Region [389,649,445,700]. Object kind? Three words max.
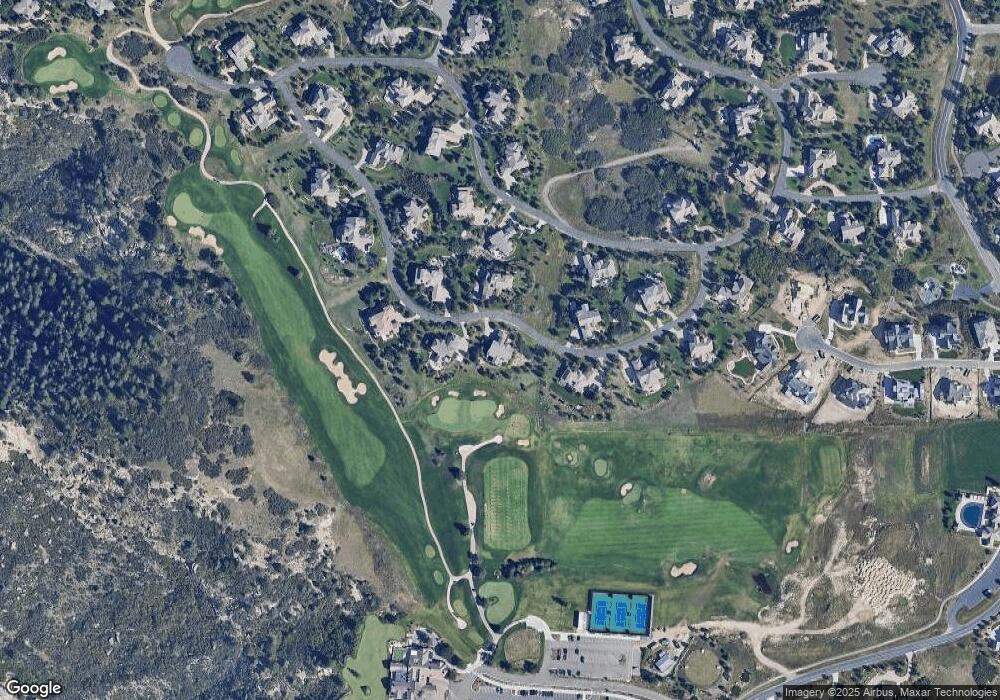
building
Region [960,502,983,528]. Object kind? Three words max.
swimming pool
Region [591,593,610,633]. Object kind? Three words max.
tennis court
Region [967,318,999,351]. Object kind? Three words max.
house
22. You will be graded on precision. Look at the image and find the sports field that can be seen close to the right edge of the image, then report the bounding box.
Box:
[945,422,1000,494]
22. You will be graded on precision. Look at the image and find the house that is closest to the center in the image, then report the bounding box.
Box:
[483,327,519,368]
